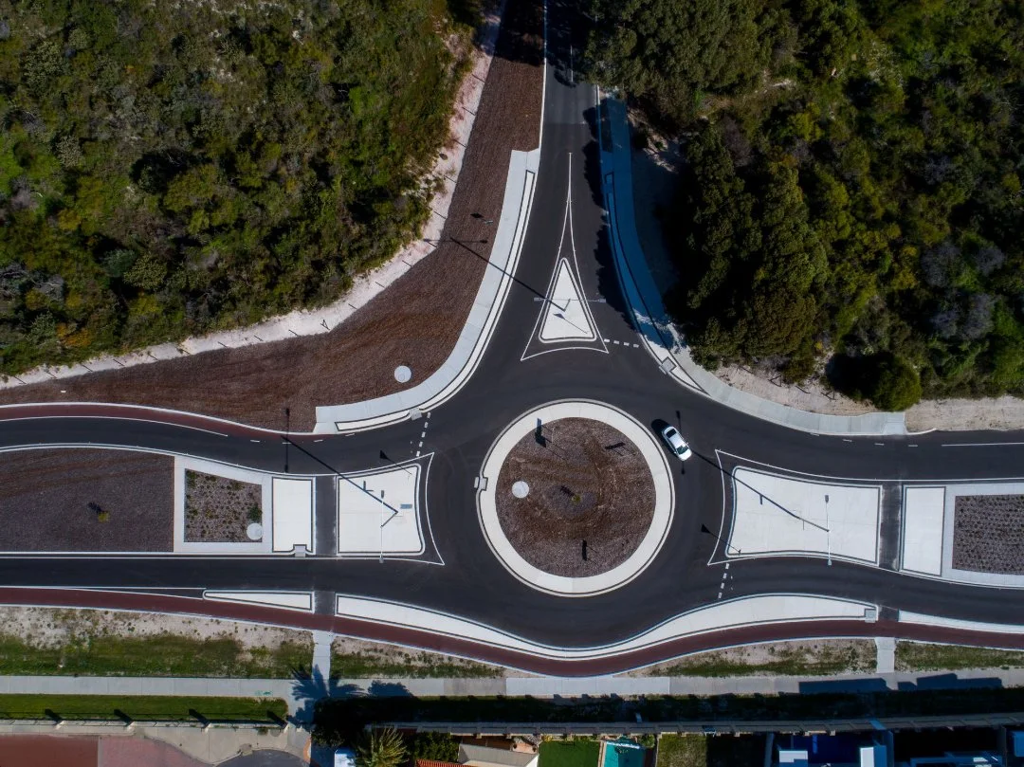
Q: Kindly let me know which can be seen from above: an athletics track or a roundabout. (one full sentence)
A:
Visible in the photo is a roundabout.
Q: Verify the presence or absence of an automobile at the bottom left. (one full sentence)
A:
No, there's no automobile to be seen at the bottom left.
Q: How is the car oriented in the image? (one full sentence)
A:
The car runs at an angle in the image.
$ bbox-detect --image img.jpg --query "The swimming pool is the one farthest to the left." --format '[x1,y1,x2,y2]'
[602,739,656,767]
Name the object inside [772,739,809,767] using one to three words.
house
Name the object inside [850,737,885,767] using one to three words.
house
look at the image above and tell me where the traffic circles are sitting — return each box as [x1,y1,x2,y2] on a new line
[421,312,747,648]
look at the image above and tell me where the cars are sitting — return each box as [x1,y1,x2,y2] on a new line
[663,427,693,461]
